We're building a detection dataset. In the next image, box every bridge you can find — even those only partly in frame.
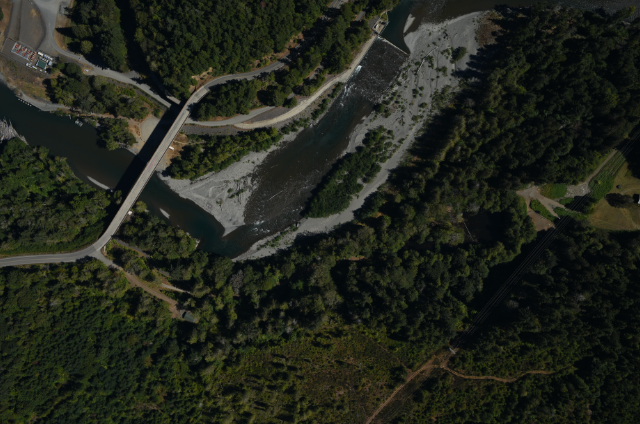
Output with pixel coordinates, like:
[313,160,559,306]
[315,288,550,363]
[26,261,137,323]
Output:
[93,84,208,250]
